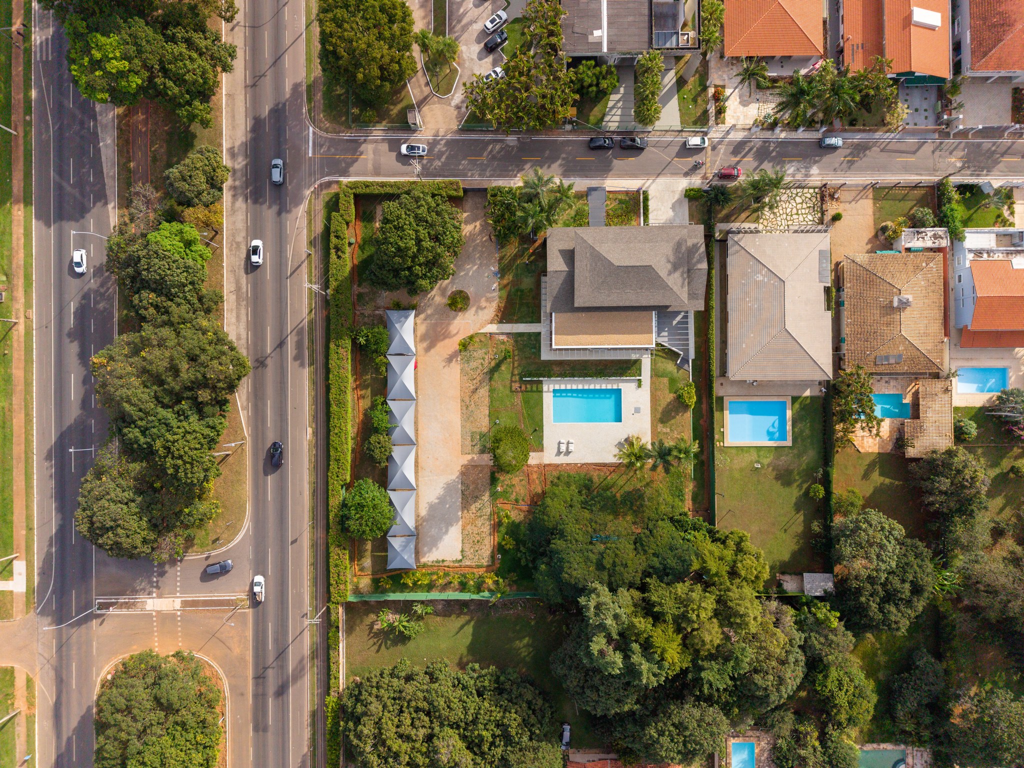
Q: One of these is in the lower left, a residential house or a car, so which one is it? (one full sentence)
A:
The feature located in the lower left is a car.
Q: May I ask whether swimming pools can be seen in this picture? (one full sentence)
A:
Yes, this view includes a swimming pool.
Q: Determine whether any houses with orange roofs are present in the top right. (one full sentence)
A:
Yes, a house with an orange roof is visible in the top right.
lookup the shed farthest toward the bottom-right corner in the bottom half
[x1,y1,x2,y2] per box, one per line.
[800,572,834,596]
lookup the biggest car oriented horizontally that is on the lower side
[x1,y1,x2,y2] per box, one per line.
[205,559,232,575]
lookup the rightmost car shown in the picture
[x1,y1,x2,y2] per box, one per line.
[820,136,842,149]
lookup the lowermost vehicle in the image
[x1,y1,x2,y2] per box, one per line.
[560,724,572,749]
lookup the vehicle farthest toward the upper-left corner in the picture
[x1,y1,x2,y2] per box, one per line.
[73,249,87,272]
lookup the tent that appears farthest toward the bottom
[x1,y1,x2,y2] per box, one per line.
[386,535,418,569]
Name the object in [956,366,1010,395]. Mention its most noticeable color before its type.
blue swimming pool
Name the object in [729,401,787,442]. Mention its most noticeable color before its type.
blue swimming pool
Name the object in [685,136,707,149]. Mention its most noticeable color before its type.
white vehicle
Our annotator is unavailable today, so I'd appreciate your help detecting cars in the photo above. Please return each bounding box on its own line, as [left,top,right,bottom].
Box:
[483,31,508,52]
[621,136,647,150]
[73,249,87,272]
[271,160,284,184]
[719,166,741,178]
[483,11,509,32]
[205,559,232,575]
[560,724,572,749]
[402,143,427,156]
[270,441,284,465]
[481,66,504,86]
[251,242,264,264]
[820,136,842,149]
[685,136,707,149]
[590,136,614,149]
